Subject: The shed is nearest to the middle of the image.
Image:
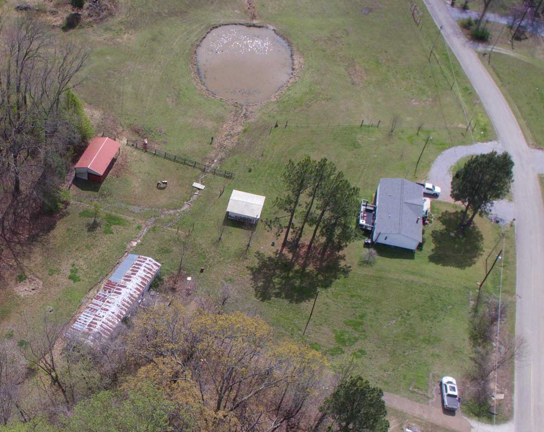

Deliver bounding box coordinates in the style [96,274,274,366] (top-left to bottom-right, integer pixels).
[226,189,266,227]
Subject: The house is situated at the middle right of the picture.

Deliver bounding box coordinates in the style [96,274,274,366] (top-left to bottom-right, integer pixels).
[373,176,428,252]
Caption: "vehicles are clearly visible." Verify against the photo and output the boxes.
[423,183,444,197]
[438,376,460,409]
